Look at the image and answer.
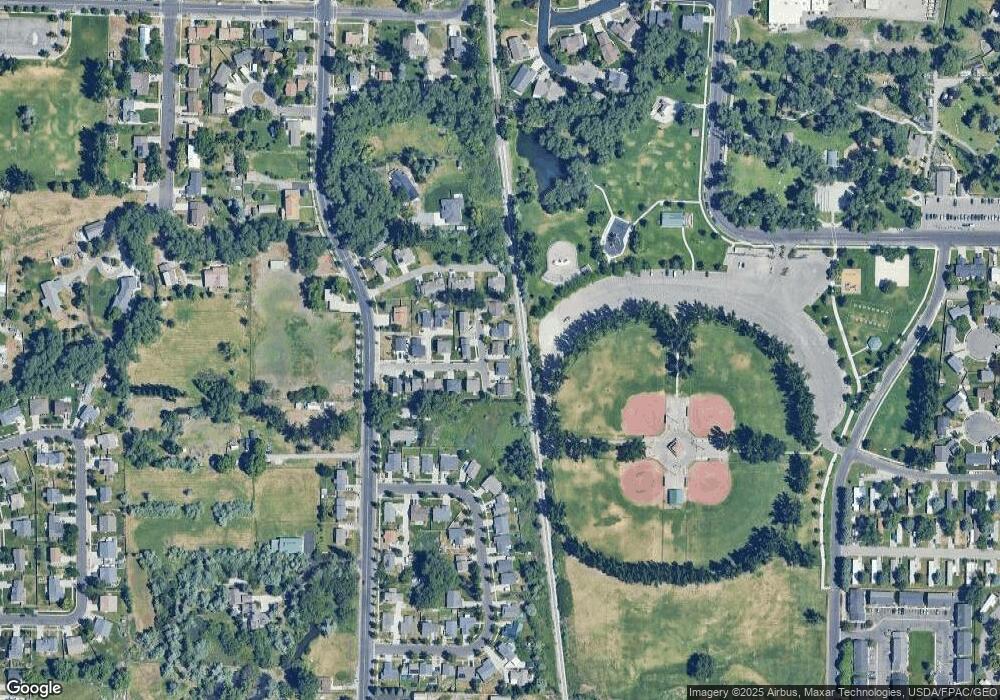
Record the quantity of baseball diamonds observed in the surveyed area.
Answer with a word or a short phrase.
4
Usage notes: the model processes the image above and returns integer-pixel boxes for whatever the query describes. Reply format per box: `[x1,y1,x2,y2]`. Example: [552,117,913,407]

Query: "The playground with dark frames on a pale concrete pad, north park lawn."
[651,97,676,123]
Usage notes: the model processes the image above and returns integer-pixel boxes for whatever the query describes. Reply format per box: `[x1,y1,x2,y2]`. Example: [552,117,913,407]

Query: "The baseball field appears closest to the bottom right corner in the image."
[685,453,792,561]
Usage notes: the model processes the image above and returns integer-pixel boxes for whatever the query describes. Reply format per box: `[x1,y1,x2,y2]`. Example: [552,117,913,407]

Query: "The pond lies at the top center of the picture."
[515,127,571,192]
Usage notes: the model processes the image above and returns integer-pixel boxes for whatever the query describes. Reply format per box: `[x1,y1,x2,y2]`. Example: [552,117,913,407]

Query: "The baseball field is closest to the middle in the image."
[564,331,666,438]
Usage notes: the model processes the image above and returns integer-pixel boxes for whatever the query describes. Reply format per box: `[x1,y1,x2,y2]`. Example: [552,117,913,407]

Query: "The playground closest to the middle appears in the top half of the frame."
[604,218,631,256]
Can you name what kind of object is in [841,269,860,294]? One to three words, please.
playground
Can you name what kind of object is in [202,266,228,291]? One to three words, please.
barn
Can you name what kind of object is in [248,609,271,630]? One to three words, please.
house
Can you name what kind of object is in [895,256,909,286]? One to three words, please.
sports court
